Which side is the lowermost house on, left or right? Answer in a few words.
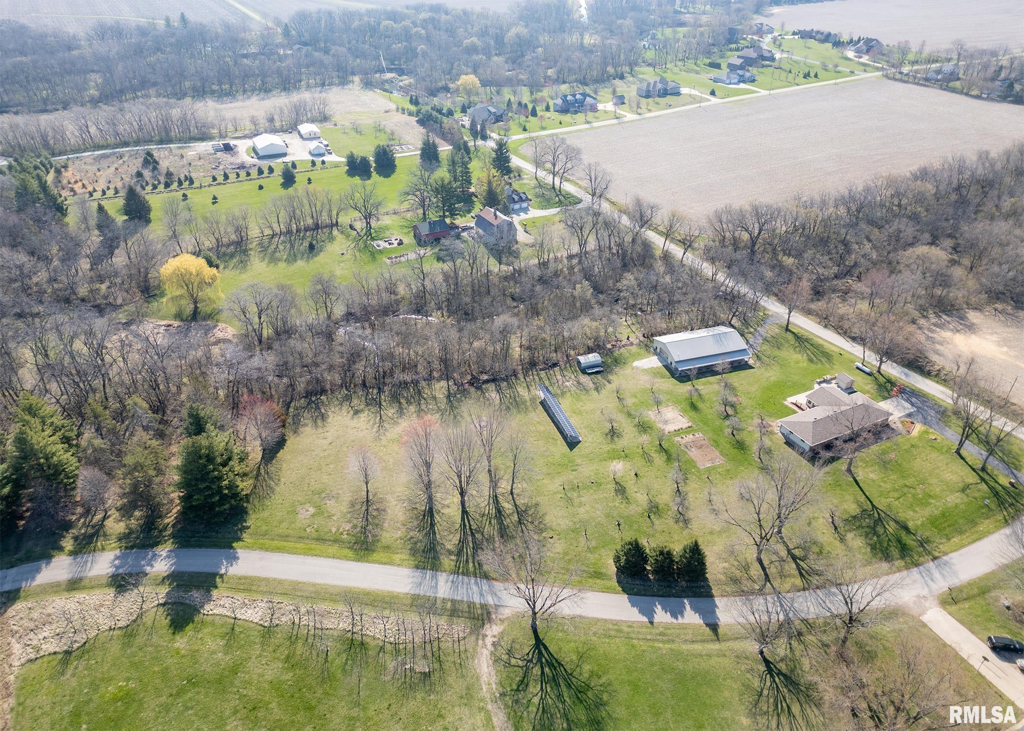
right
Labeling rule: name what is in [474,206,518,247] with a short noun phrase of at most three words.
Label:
barn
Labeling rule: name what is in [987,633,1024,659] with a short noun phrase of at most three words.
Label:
car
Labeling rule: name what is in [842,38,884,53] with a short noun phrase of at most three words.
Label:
house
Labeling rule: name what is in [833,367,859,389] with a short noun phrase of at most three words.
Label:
shed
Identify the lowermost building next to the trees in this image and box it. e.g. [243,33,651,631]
[776,383,895,454]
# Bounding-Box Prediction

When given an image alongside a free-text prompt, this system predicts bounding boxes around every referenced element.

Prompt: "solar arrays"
[537,383,582,444]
